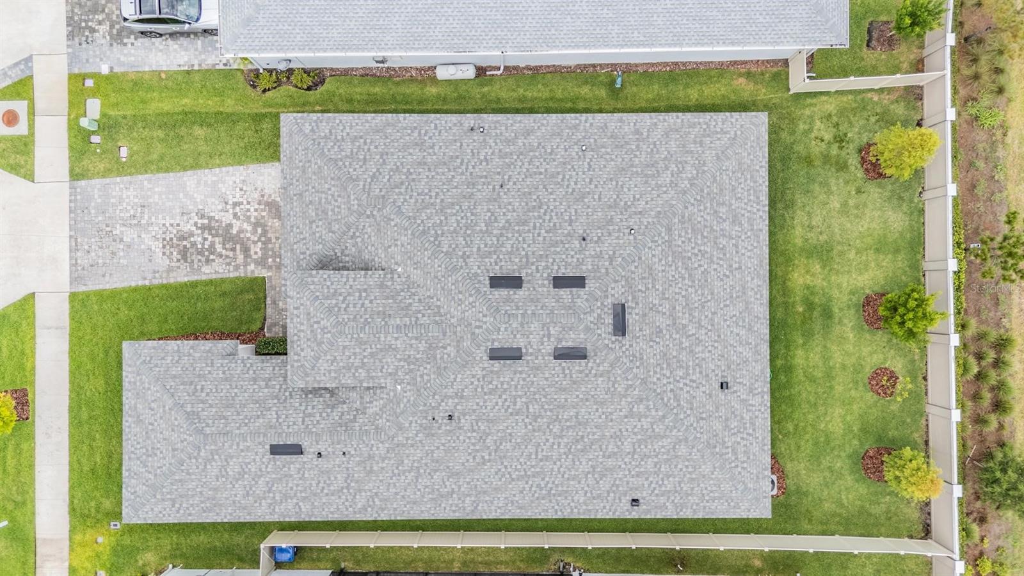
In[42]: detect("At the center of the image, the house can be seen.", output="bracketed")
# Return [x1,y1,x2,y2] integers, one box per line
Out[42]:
[122,112,771,523]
